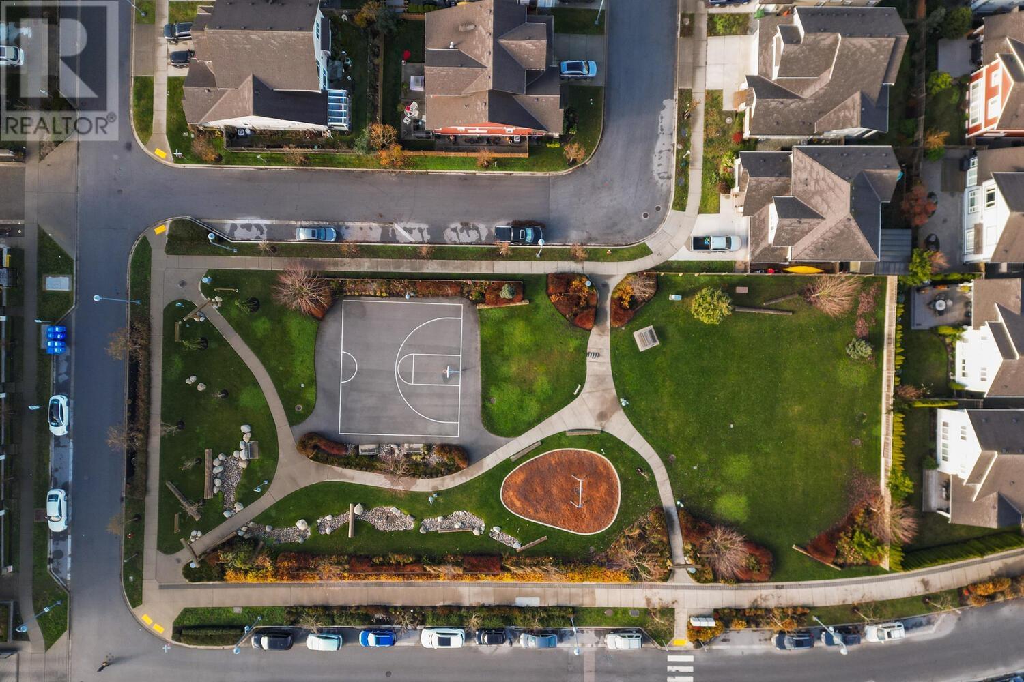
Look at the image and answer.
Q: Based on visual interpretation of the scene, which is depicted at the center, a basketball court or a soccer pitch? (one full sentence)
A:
The feature located at the center is a basketball court.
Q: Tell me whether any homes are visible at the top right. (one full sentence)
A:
Yes, you'll find a home at the top right.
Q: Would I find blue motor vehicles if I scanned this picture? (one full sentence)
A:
Yes, the picture does show a blue motor vehicle.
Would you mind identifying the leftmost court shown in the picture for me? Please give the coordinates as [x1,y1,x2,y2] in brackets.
[291,297,516,470]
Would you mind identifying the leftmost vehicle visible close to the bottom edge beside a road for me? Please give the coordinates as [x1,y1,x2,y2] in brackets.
[249,632,291,655]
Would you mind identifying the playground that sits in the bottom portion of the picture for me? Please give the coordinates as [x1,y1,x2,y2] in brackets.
[502,449,620,534]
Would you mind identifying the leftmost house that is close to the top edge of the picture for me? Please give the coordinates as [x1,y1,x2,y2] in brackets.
[179,0,333,128]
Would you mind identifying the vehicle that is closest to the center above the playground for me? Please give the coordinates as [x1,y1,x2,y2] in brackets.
[494,222,543,244]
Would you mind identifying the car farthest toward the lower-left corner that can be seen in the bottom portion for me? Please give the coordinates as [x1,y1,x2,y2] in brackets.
[41,490,66,533]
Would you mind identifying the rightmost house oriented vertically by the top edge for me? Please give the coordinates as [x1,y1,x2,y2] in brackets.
[965,5,1024,140]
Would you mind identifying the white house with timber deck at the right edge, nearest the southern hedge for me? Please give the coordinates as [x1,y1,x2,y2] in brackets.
[936,408,1024,533]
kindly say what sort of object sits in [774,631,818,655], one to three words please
car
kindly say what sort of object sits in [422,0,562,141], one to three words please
house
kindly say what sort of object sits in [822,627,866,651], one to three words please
vehicle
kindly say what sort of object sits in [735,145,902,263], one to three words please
house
